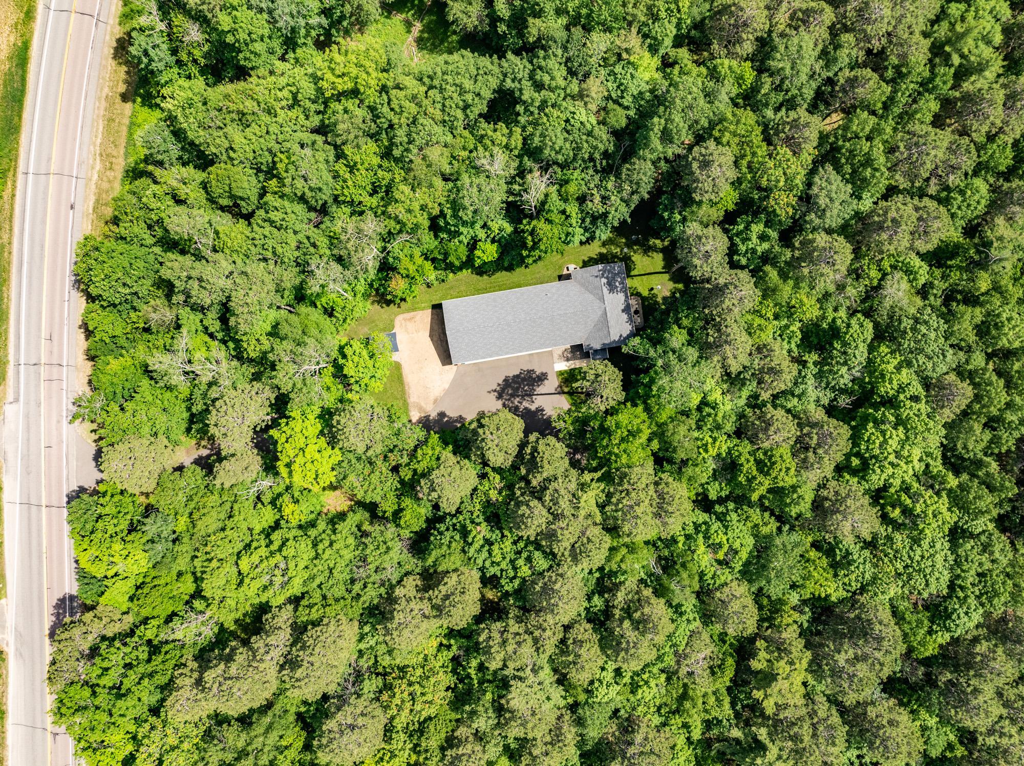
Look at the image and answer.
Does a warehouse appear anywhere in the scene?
No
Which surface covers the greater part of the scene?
trees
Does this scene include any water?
No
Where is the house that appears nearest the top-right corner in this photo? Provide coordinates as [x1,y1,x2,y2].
[441,262,637,365]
